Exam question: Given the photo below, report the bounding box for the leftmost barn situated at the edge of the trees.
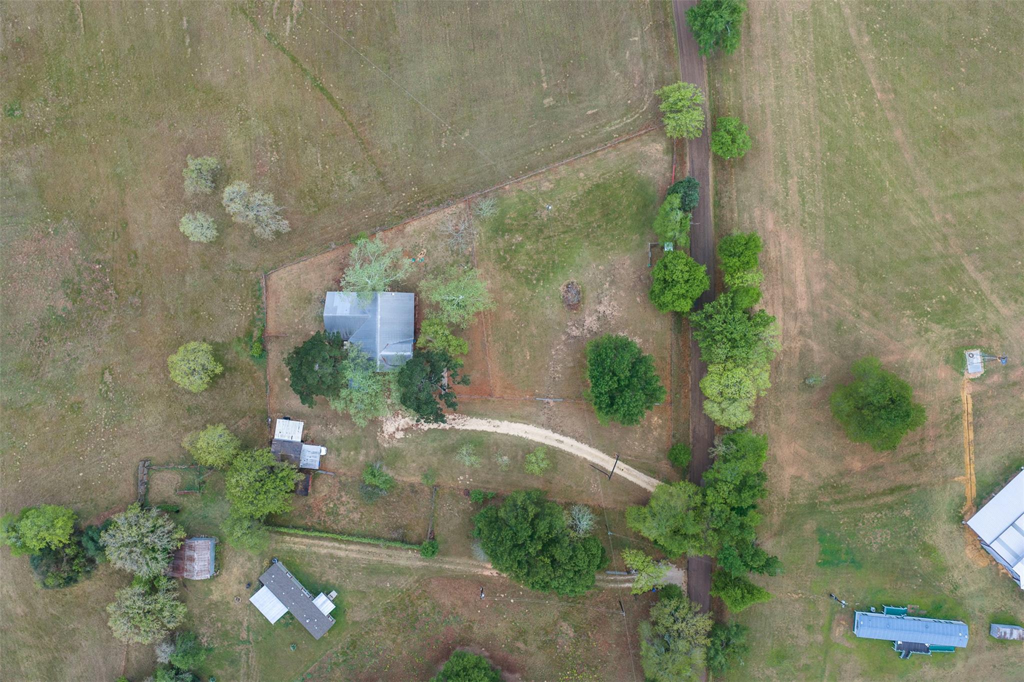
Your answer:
[166,536,215,579]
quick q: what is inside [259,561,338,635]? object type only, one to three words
house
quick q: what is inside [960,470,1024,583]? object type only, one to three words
building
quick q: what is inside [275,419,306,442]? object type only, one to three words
shed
